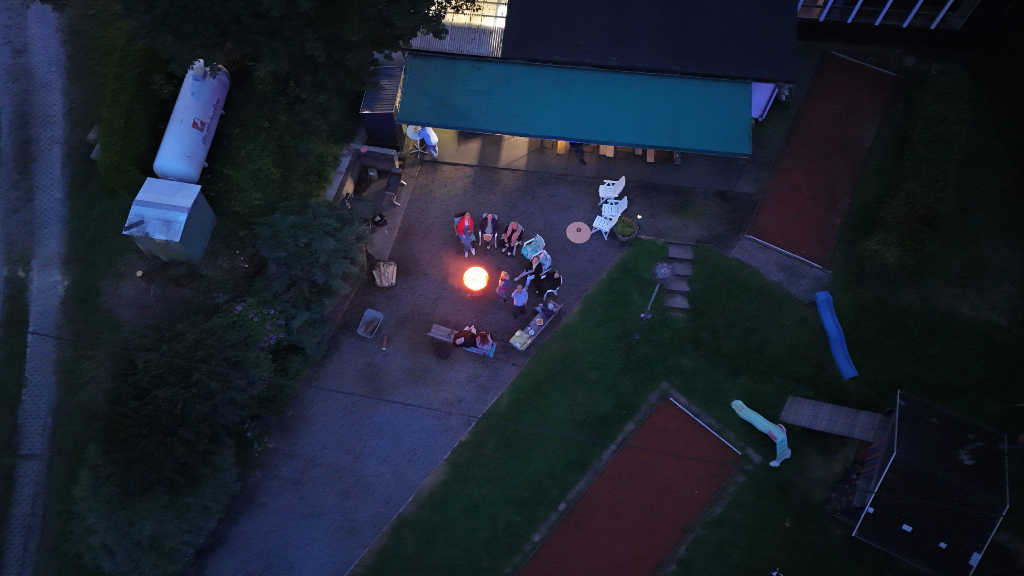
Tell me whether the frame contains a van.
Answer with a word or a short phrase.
No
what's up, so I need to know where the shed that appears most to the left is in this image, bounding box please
[123,177,221,267]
